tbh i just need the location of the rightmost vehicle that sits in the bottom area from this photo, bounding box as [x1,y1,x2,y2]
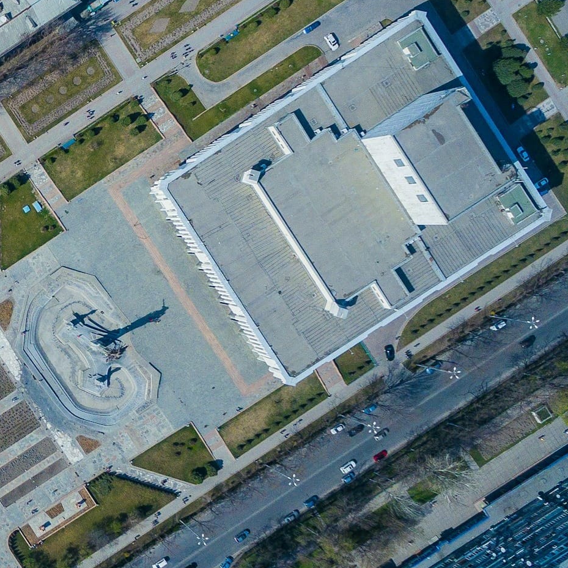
[517,334,535,348]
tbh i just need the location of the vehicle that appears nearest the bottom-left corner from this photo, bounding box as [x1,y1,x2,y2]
[150,555,169,568]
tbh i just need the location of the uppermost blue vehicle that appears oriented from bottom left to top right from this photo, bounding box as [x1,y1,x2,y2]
[302,20,319,35]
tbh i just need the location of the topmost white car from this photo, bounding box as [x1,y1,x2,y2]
[323,32,338,51]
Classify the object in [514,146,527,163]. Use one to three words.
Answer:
vehicle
